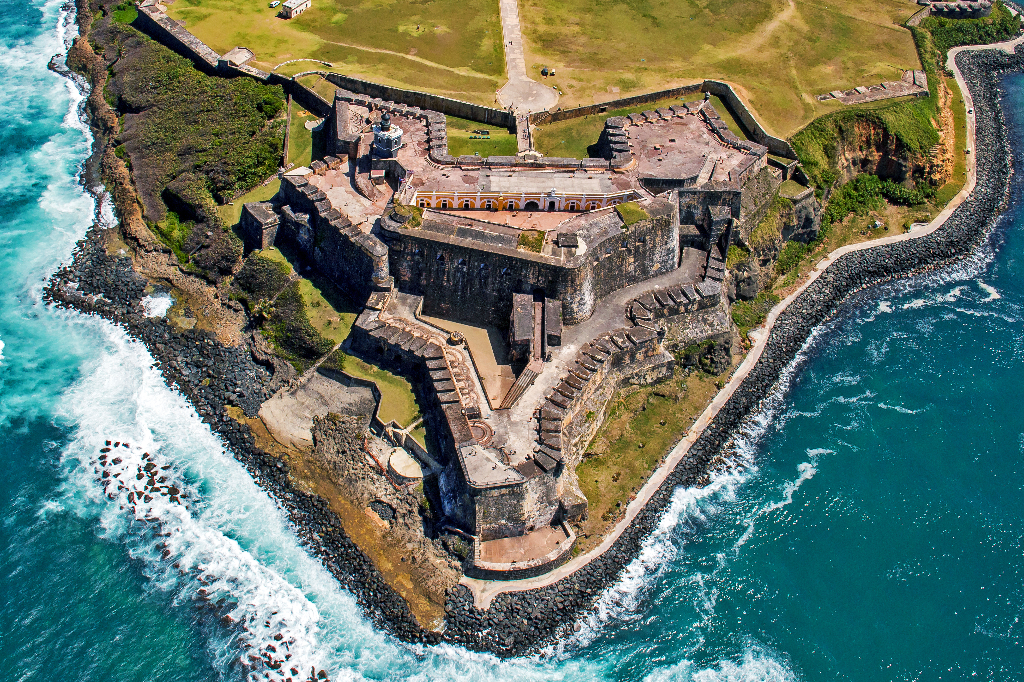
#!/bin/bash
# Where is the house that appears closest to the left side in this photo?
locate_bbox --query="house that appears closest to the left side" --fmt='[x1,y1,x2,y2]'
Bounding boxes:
[218,47,257,84]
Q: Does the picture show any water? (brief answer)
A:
Yes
